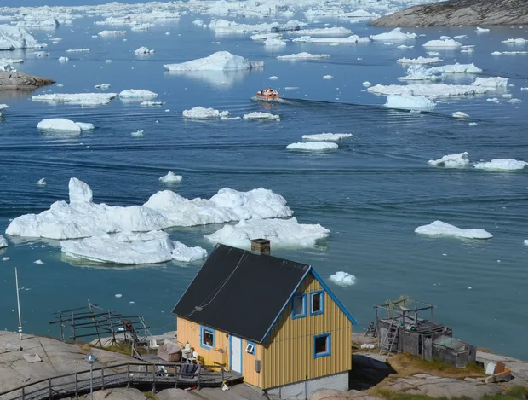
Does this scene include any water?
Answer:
Yes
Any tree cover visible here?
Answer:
No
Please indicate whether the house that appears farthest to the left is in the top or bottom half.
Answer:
bottom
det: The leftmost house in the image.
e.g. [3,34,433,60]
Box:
[172,238,357,395]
